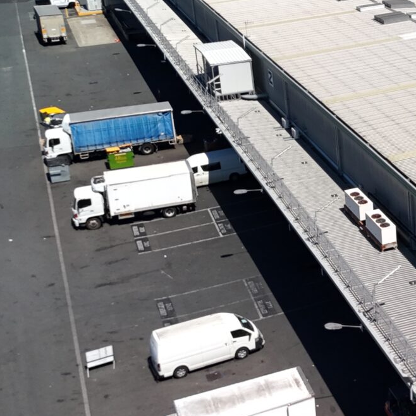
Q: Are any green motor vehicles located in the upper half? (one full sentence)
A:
No, looking in the upper half, there is no green motor vehicle.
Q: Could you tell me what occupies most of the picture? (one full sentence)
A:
The largest share of the image is taken up by paved ground.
